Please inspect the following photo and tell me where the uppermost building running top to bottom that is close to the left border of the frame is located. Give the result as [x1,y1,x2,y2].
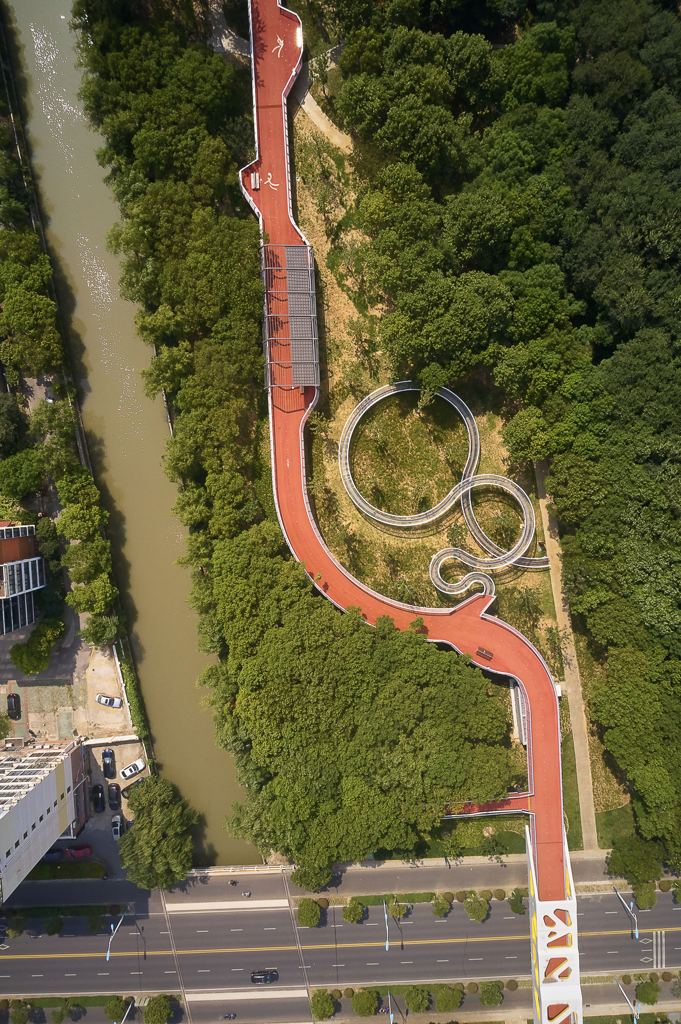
[0,524,46,637]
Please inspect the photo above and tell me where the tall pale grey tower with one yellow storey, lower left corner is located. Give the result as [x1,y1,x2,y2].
[0,734,91,902]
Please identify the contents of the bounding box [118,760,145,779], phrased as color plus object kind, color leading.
white car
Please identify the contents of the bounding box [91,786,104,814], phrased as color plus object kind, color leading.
black vehicle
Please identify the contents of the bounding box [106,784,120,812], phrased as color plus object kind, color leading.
black car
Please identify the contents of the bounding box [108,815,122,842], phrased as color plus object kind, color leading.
gray car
